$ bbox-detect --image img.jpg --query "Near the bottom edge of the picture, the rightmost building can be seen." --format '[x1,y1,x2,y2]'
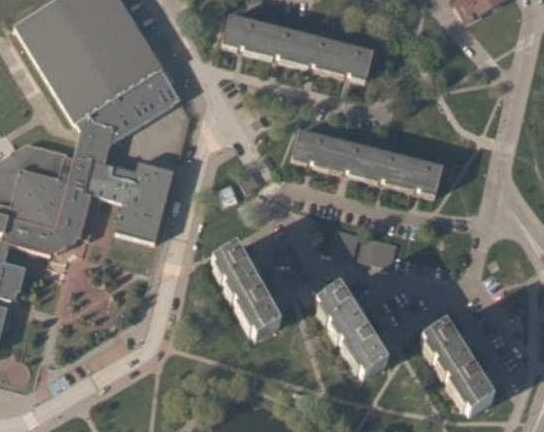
[417,315,495,419]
